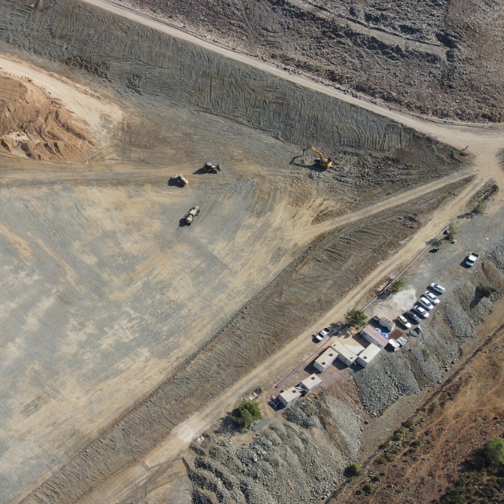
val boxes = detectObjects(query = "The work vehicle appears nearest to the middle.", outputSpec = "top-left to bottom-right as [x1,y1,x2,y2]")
[186,204,202,224]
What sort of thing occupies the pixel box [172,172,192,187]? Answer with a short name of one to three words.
work vehicle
